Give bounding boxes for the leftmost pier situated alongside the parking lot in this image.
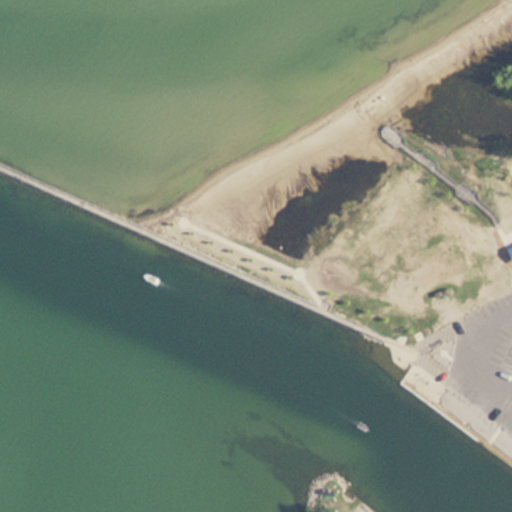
[0,164,405,353]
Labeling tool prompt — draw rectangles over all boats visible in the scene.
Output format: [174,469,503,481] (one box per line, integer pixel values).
[144,275,160,286]
[356,422,368,431]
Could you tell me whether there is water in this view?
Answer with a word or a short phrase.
Yes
